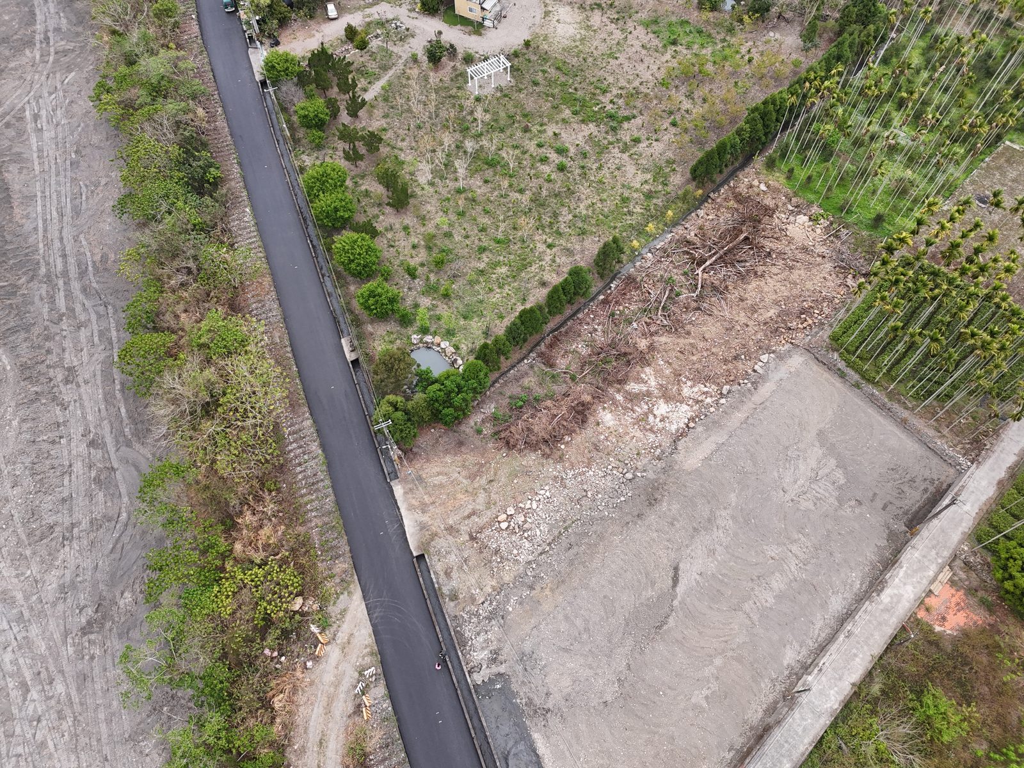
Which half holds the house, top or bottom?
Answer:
top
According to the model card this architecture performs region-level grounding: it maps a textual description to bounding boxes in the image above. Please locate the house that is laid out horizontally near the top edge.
[454,0,520,30]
